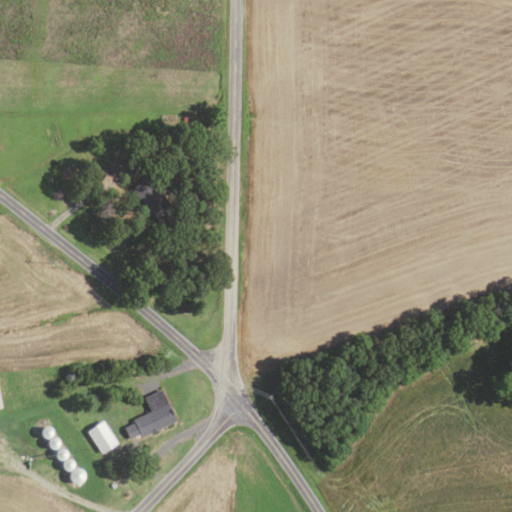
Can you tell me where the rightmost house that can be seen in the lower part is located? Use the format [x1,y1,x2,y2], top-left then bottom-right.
[128,391,176,440]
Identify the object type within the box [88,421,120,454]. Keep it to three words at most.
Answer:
barn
